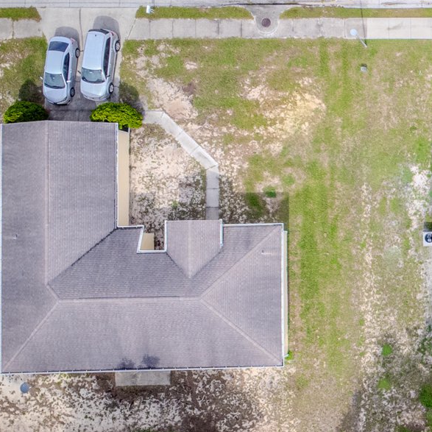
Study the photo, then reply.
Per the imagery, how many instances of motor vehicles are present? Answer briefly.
2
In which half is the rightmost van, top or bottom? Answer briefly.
top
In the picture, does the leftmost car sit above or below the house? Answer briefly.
above it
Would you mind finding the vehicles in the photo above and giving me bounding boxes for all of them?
[38,37,78,106]
[76,29,117,102]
